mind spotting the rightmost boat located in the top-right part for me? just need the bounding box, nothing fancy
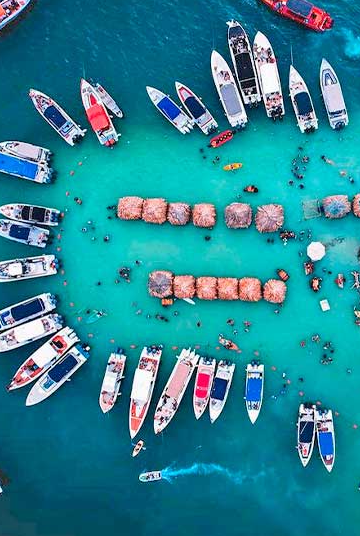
[320,58,347,130]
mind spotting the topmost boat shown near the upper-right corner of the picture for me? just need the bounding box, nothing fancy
[260,0,333,32]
